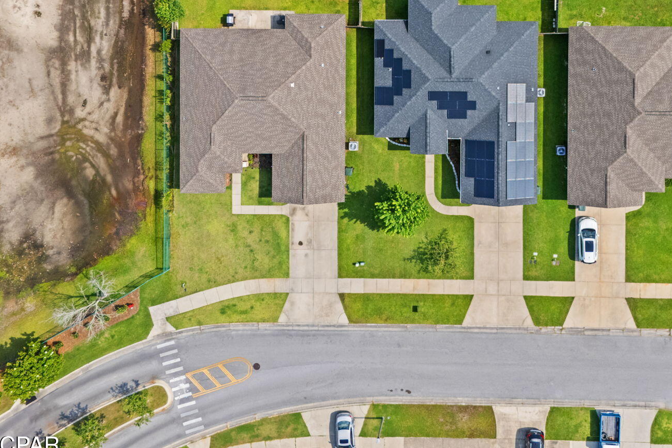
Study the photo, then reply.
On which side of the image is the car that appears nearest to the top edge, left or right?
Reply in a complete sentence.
The car that appears nearest to the top edge is on the right side of the image.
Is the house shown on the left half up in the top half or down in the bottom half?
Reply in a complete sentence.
Seen from above, the house shown on the left half lies in the top half of the view.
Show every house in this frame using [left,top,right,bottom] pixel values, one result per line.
[374,0,538,206]
[567,26,672,208]
[179,13,346,204]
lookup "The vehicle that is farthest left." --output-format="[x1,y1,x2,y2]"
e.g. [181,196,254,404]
[335,411,357,448]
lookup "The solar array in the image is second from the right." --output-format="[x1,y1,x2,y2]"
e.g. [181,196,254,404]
[465,140,494,198]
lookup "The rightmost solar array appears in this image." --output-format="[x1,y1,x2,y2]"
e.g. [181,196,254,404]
[507,84,535,198]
